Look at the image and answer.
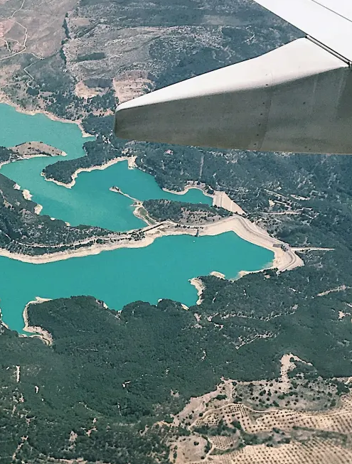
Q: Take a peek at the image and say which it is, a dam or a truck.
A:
dam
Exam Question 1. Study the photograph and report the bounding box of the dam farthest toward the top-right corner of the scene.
[212,190,244,215]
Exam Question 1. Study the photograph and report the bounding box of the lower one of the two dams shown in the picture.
[212,213,303,273]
